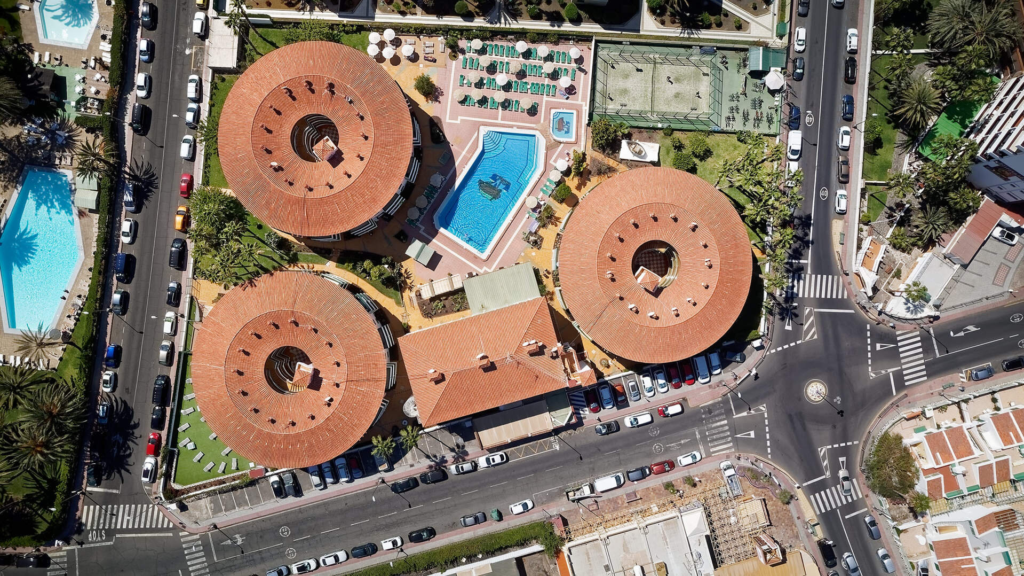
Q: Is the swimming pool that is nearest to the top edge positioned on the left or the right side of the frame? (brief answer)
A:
left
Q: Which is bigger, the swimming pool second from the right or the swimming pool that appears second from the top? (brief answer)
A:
the swimming pool second from the right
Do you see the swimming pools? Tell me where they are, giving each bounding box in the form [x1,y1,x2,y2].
[550,109,577,142]
[36,0,99,50]
[433,126,546,259]
[0,165,83,334]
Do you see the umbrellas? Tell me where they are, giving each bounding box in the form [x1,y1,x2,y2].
[479,56,490,68]
[556,159,568,171]
[471,89,483,102]
[416,197,427,208]
[537,46,549,58]
[401,45,413,57]
[570,147,581,158]
[468,72,480,84]
[408,207,420,219]
[520,98,532,110]
[383,29,395,41]
[515,42,527,53]
[367,45,379,57]
[495,74,508,87]
[471,39,482,50]
[543,62,555,74]
[430,175,442,186]
[763,70,785,91]
[550,171,561,182]
[382,48,394,59]
[568,48,580,60]
[369,32,381,44]
[494,91,506,103]
[559,77,571,89]
[510,62,522,74]
[526,196,538,208]
[454,89,465,101]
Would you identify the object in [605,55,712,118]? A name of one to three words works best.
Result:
sports court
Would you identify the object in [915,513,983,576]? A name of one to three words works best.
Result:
house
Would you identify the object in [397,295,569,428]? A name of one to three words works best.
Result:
building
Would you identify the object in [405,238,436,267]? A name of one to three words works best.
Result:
gazebo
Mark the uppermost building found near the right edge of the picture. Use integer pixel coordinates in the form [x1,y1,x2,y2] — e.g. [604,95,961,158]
[947,80,1024,198]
